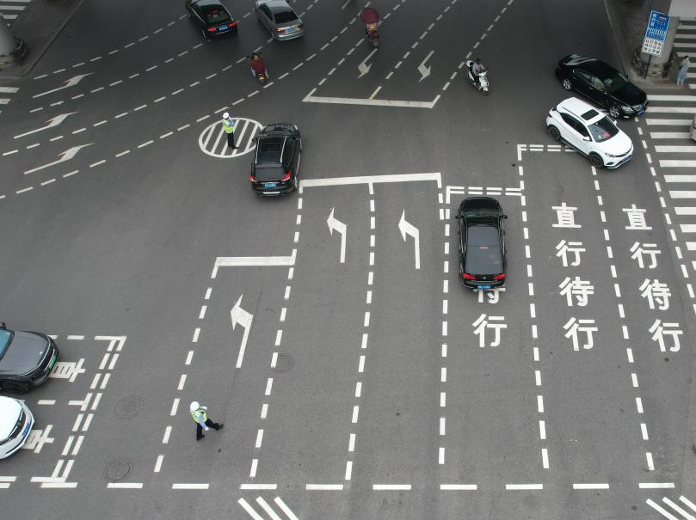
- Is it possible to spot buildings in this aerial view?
No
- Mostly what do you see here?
paved ground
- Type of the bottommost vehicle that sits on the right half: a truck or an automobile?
automobile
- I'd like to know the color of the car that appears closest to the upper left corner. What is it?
black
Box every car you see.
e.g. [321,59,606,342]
[555,52,653,119]
[545,97,638,169]
[182,0,240,43]
[0,395,35,456]
[248,121,304,200]
[454,193,514,289]
[0,323,59,393]
[253,0,309,42]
